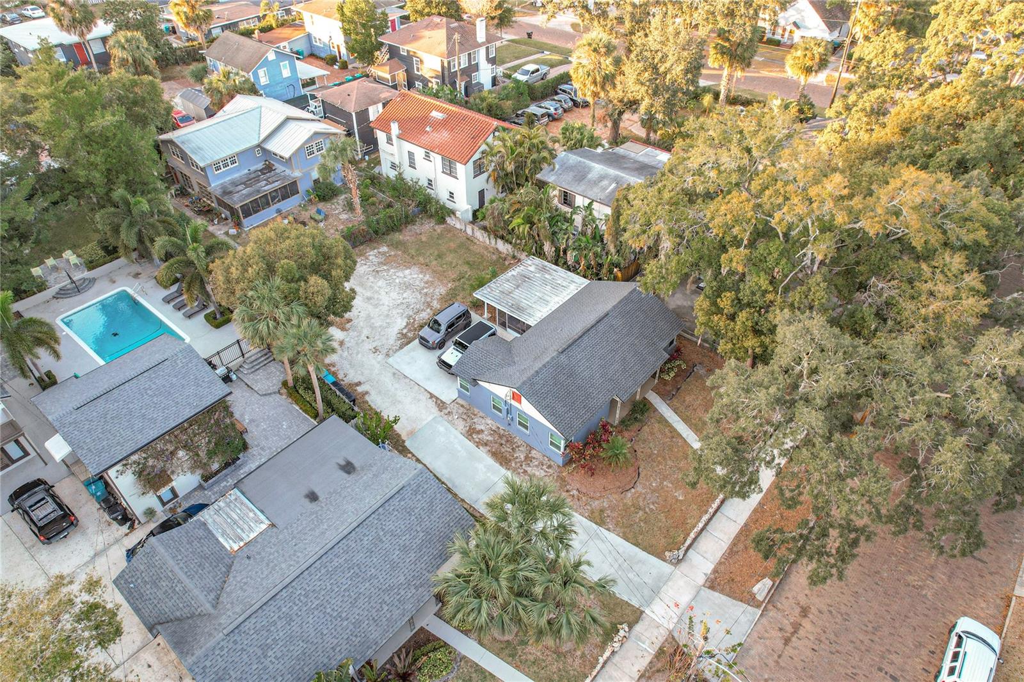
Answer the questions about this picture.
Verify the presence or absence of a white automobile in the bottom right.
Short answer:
Yes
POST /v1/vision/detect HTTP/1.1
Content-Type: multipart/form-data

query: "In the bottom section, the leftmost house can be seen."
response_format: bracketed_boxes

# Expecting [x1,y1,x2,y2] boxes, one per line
[0,400,47,475]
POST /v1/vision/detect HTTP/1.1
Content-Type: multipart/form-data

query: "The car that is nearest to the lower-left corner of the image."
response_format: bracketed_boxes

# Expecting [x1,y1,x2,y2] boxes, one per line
[5,483,79,548]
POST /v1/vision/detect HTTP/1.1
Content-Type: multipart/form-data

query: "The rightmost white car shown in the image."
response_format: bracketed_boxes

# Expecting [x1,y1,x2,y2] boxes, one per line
[928,613,1005,682]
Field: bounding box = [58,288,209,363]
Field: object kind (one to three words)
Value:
swimming pool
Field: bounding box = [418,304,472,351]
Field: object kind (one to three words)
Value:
car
